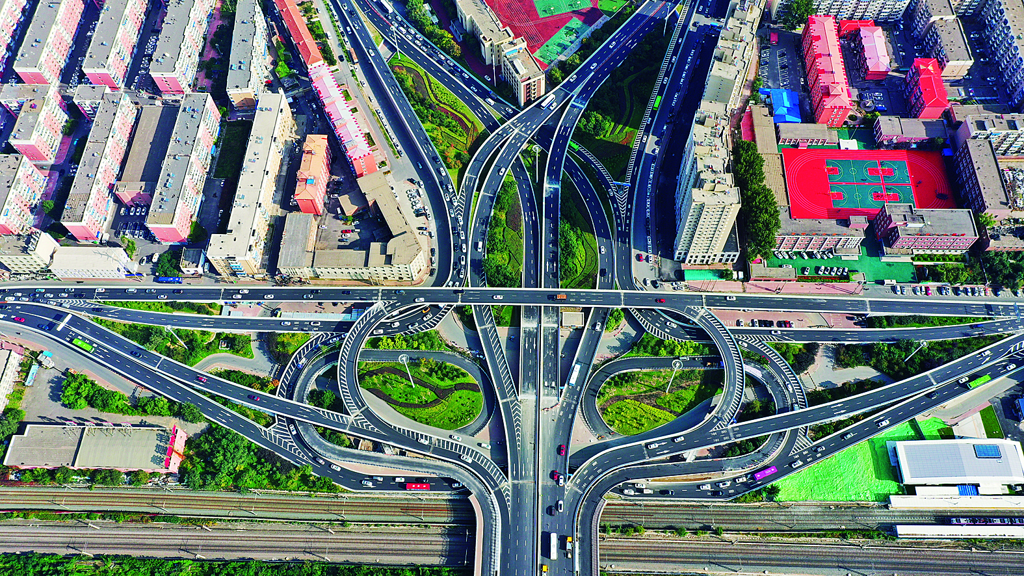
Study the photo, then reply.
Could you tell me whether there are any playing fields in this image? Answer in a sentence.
Yes, this view includes a playing field.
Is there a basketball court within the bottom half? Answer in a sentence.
No, there's no basketball court to be seen within the bottom half.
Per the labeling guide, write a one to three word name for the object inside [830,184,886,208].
basketball court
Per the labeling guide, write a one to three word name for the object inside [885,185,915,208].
basketball court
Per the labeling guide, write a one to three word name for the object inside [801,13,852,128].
building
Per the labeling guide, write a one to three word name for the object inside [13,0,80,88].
building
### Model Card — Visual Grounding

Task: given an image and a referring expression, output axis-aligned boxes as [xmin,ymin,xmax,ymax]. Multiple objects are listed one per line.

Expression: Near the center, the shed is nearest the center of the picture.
[561,312,584,330]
